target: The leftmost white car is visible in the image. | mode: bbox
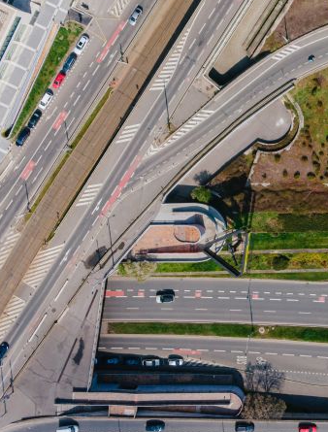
[38,89,54,109]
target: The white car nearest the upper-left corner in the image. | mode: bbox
[74,33,89,54]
